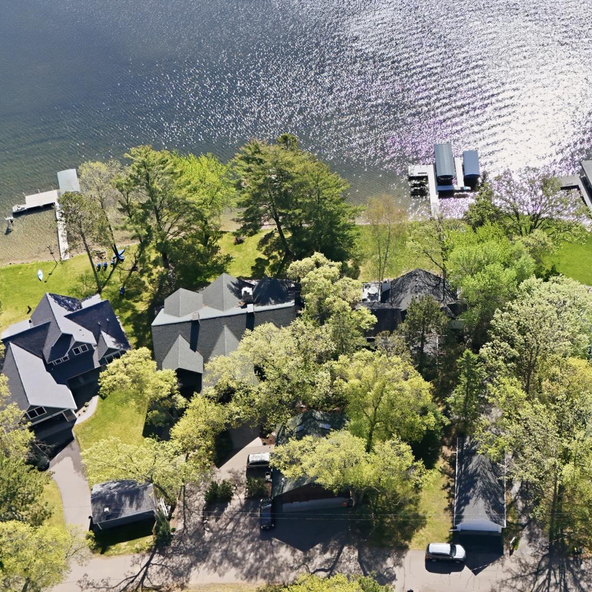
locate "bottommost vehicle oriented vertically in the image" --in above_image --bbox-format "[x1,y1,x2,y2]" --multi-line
[255,497,277,538]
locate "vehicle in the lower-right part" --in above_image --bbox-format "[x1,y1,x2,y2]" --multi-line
[425,544,466,565]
